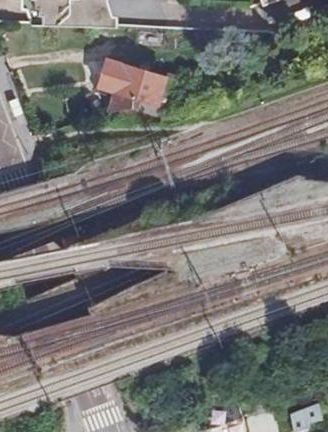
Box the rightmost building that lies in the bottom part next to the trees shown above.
[290,404,322,431]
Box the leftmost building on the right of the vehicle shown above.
[96,58,168,115]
